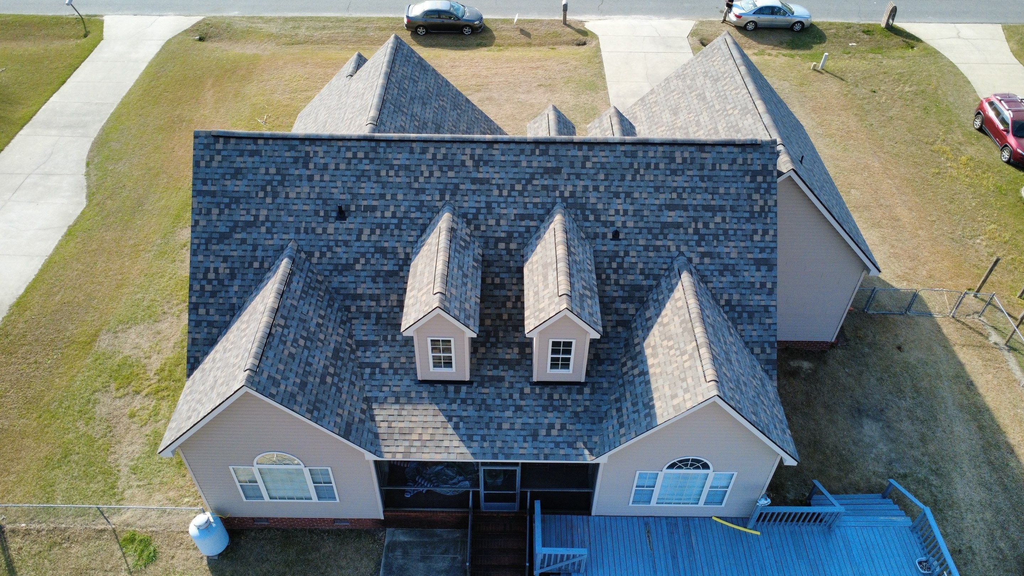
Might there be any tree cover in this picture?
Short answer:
No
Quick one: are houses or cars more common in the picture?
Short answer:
cars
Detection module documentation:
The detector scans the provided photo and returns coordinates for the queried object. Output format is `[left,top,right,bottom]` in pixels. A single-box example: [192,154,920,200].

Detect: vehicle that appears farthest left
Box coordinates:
[403,0,484,35]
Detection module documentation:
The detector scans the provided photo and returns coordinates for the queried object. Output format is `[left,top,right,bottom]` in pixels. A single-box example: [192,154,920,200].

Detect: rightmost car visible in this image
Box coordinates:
[974,85,1024,165]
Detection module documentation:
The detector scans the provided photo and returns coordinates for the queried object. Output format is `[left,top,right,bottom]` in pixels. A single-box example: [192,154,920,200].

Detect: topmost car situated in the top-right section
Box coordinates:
[729,0,816,32]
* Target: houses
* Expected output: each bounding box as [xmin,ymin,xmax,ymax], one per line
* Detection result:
[158,31,882,576]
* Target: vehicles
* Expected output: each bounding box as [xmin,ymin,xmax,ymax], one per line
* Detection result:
[974,85,1024,165]
[403,0,484,35]
[729,0,816,32]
